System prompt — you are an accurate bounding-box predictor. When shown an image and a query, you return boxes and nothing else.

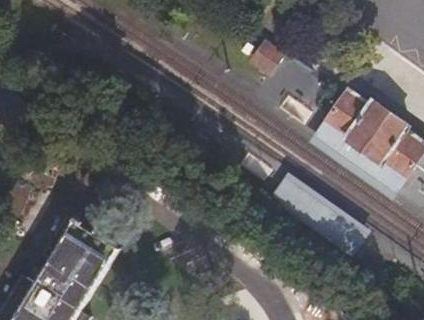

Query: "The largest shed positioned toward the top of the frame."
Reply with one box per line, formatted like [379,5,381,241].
[249,40,285,77]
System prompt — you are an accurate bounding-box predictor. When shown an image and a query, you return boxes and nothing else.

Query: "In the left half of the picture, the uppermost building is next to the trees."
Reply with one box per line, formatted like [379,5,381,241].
[11,176,56,218]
